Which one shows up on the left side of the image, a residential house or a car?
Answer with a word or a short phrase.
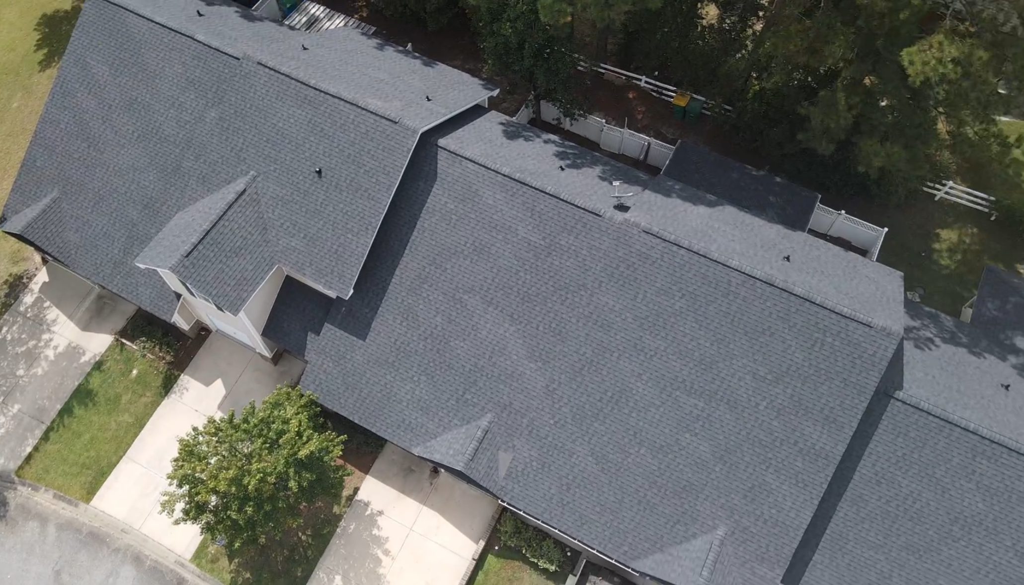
residential house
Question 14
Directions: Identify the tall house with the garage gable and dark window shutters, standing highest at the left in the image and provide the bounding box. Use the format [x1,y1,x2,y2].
[0,0,503,368]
